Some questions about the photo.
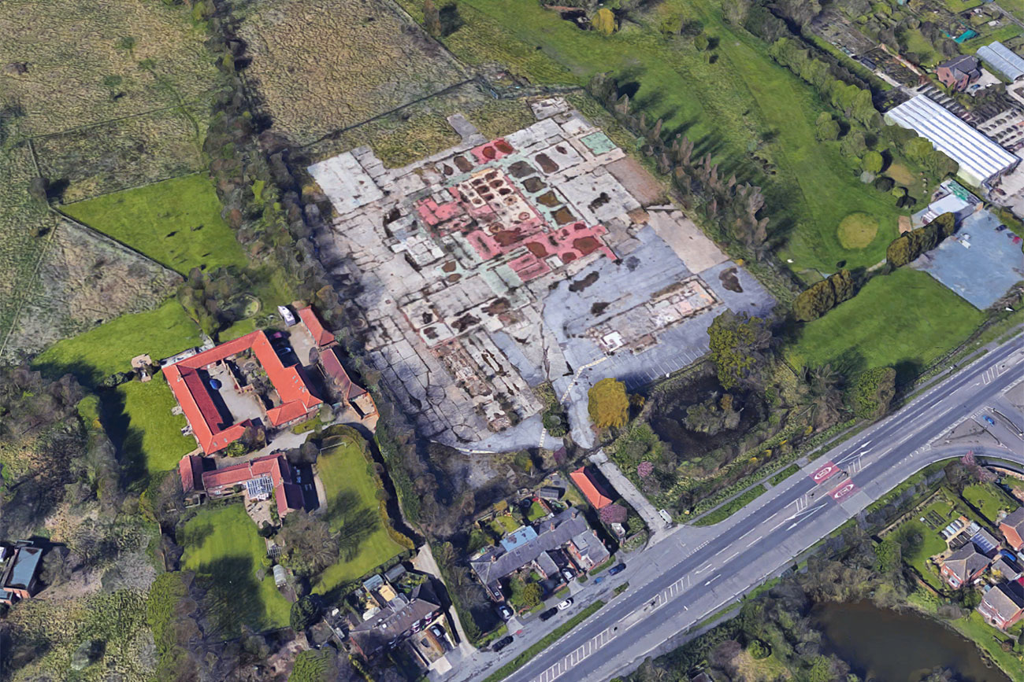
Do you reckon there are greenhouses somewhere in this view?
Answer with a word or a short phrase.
Yes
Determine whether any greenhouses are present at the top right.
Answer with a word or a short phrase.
Yes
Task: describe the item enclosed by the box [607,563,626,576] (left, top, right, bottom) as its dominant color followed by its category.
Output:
blue vehicle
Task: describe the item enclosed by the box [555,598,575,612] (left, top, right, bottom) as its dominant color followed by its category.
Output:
white car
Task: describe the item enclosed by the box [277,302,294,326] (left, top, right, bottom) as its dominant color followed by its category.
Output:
white camper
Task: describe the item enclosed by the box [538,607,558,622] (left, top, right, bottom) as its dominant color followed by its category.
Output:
black car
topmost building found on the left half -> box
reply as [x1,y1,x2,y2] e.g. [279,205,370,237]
[297,304,335,351]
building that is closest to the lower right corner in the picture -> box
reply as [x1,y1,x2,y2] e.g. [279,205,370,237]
[978,581,1024,633]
